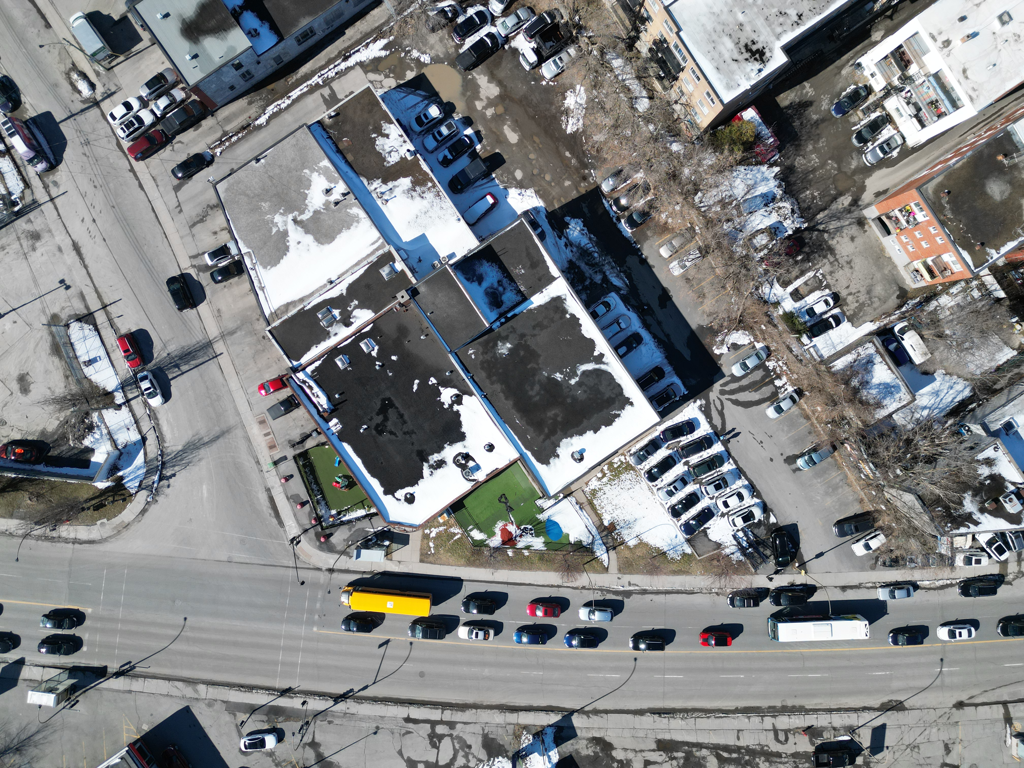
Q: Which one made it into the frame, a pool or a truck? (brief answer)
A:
truck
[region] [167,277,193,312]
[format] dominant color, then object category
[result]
black car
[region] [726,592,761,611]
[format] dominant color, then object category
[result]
black car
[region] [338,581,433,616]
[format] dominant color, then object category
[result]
yellow bus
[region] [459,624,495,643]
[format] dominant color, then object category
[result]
white car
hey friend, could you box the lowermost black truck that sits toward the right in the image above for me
[811,746,856,768]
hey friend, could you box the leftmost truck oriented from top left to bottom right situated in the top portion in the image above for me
[0,116,60,172]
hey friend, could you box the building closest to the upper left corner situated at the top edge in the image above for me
[130,0,273,111]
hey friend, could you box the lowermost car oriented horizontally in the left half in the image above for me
[238,731,278,753]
